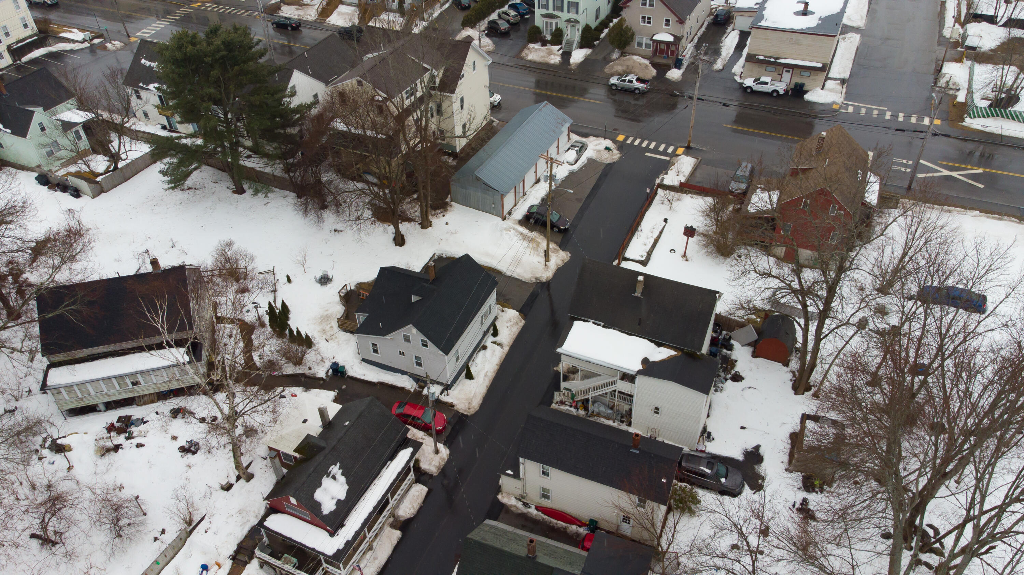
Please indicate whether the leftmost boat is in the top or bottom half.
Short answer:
bottom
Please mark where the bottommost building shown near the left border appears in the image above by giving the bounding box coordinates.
[36,257,210,411]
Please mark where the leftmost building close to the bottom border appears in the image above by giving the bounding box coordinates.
[254,393,424,575]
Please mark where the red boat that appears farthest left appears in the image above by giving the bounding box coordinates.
[535,508,587,528]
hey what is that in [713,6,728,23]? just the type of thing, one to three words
car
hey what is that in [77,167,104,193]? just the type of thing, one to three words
shed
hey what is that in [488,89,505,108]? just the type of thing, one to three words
car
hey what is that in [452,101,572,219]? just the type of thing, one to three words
building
